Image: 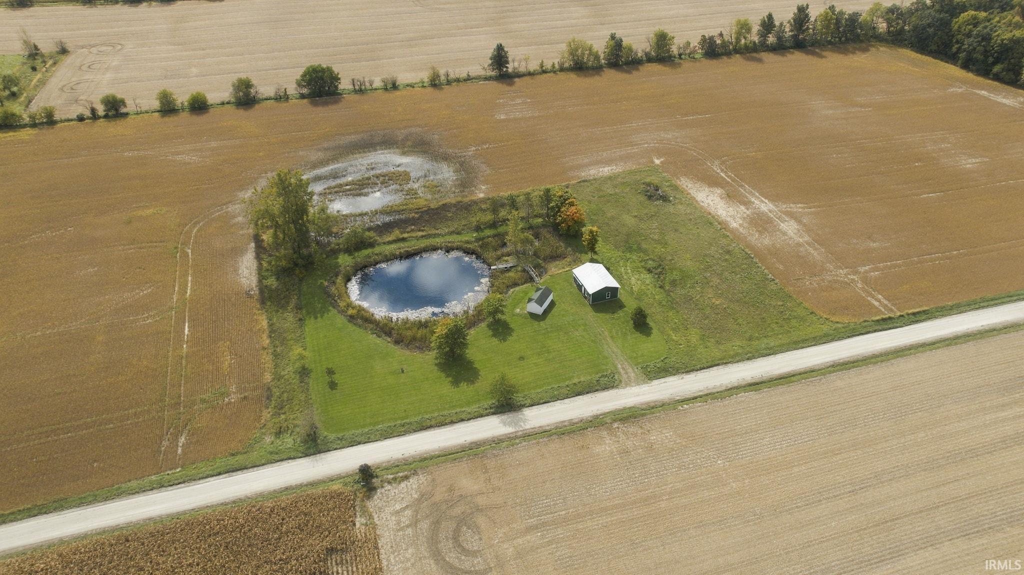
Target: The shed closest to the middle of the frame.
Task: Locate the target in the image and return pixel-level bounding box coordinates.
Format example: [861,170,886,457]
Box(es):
[526,286,552,314]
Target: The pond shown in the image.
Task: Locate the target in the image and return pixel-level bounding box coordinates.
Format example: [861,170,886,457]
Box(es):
[349,250,490,319]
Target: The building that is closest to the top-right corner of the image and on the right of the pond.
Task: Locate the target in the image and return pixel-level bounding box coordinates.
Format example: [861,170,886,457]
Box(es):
[571,262,622,304]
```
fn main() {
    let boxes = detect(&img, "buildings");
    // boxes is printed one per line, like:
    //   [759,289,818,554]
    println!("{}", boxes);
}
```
[571,262,622,304]
[526,286,552,314]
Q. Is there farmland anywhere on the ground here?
Yes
